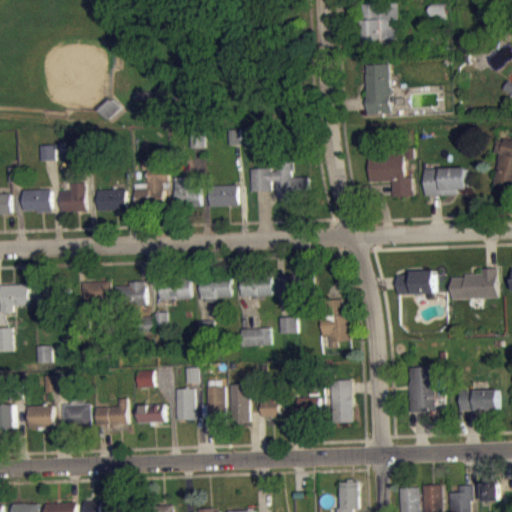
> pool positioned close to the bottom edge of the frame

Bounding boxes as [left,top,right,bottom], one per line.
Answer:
[320,494,340,509]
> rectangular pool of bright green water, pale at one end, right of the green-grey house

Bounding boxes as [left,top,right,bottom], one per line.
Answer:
[390,86,444,116]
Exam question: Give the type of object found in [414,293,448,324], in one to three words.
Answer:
swimming pool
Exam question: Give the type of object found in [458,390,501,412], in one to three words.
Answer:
house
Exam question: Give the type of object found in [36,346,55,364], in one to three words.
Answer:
shed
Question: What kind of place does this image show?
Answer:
residential area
